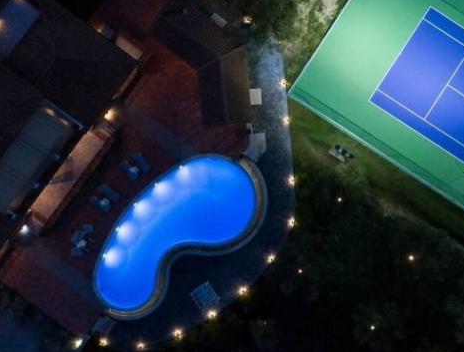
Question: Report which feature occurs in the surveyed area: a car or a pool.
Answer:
pool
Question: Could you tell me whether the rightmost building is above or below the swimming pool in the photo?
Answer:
above it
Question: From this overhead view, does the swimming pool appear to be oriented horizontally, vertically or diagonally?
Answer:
diagonally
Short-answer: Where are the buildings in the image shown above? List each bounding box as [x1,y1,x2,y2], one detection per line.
[0,0,140,253]
[150,0,262,124]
